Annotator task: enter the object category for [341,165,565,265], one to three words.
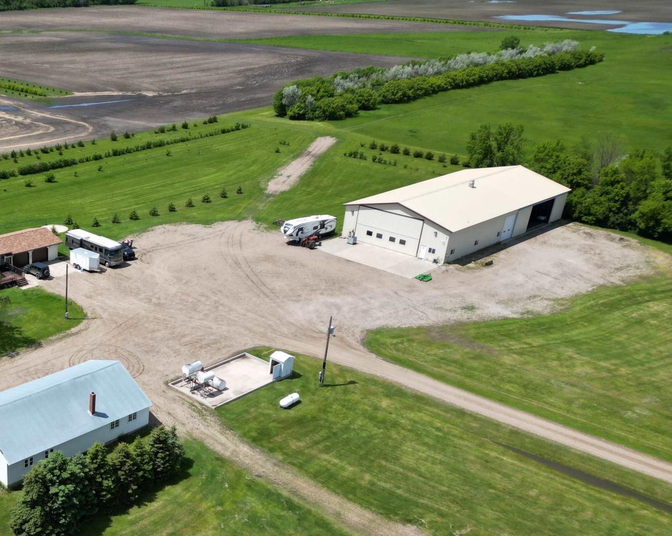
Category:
shed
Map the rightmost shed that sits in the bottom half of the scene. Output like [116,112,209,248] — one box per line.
[272,352,296,380]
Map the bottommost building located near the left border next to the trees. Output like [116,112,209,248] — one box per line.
[0,359,154,487]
